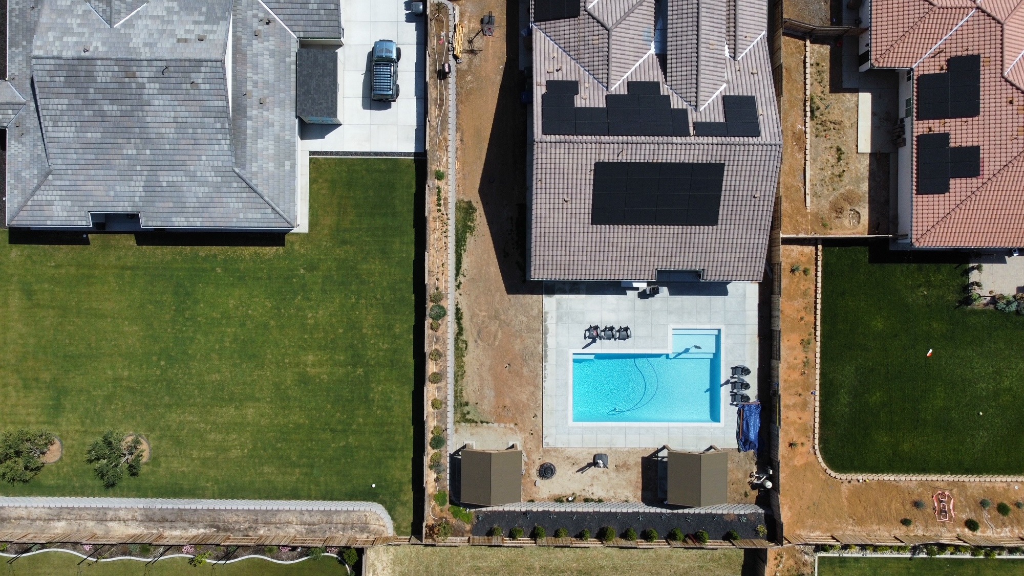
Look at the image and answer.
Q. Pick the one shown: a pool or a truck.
pool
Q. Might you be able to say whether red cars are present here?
No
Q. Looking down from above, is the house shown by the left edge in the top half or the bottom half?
top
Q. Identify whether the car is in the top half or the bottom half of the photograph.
top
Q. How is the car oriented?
from top to bottom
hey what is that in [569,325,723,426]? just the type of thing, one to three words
swimming pool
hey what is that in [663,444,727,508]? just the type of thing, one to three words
building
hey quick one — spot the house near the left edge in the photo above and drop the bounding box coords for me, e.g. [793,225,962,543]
[0,0,343,231]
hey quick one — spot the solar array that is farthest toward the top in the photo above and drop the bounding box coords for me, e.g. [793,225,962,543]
[535,0,580,20]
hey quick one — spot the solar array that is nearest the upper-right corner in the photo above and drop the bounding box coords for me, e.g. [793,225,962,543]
[919,54,980,120]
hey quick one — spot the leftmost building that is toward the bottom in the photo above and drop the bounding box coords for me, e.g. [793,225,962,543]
[461,440,522,507]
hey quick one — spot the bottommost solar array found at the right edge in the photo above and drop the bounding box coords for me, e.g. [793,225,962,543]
[918,133,980,195]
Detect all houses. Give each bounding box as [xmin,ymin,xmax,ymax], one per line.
[0,0,343,231]
[529,0,784,284]
[859,0,1024,252]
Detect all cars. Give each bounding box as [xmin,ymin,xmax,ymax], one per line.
[371,38,403,102]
